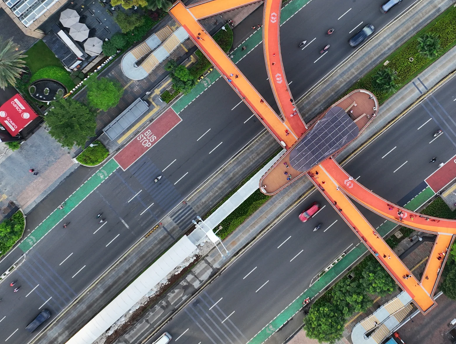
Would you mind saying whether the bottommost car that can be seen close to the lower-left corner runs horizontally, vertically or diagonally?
diagonally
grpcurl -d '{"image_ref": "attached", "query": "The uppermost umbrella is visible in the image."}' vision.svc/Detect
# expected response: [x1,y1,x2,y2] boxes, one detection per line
[60,9,80,27]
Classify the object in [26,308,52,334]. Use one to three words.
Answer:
car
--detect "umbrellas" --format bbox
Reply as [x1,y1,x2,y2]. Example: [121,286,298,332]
[70,23,89,42]
[60,9,80,27]
[85,38,101,56]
